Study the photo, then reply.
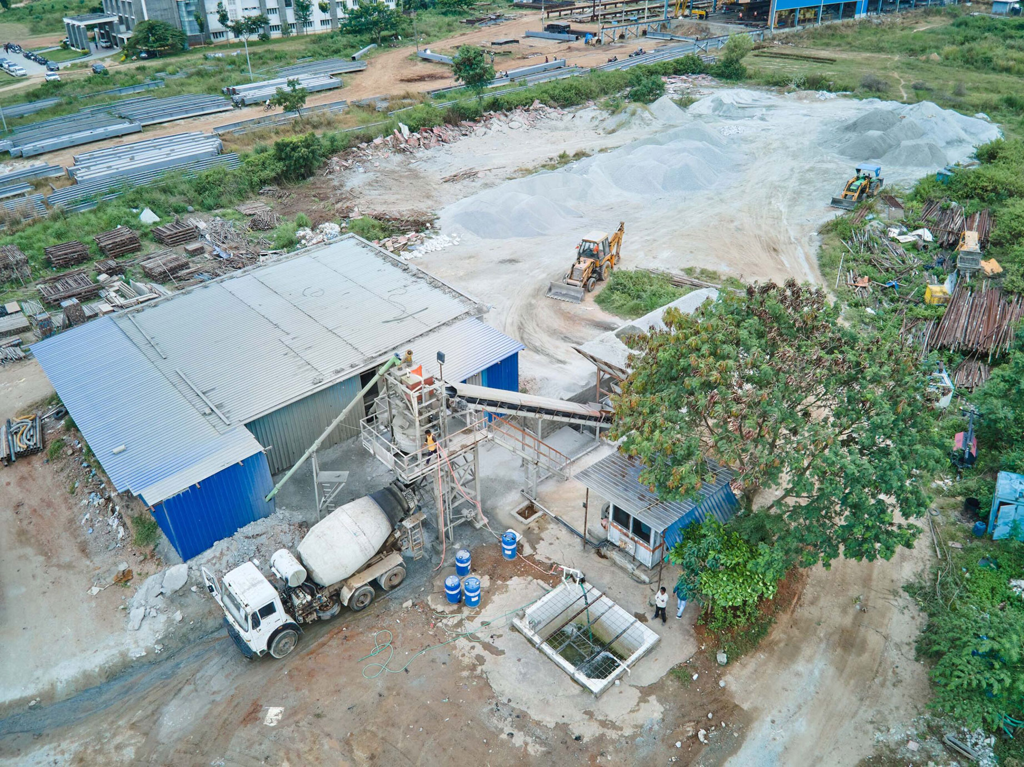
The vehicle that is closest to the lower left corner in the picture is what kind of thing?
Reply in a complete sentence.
Specifically, the vehicle that is closest to the lower left corner is a truck.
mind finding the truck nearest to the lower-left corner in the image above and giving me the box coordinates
[205,476,435,669]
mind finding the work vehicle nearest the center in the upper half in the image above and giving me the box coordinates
[553,215,613,302]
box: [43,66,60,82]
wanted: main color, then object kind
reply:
white car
